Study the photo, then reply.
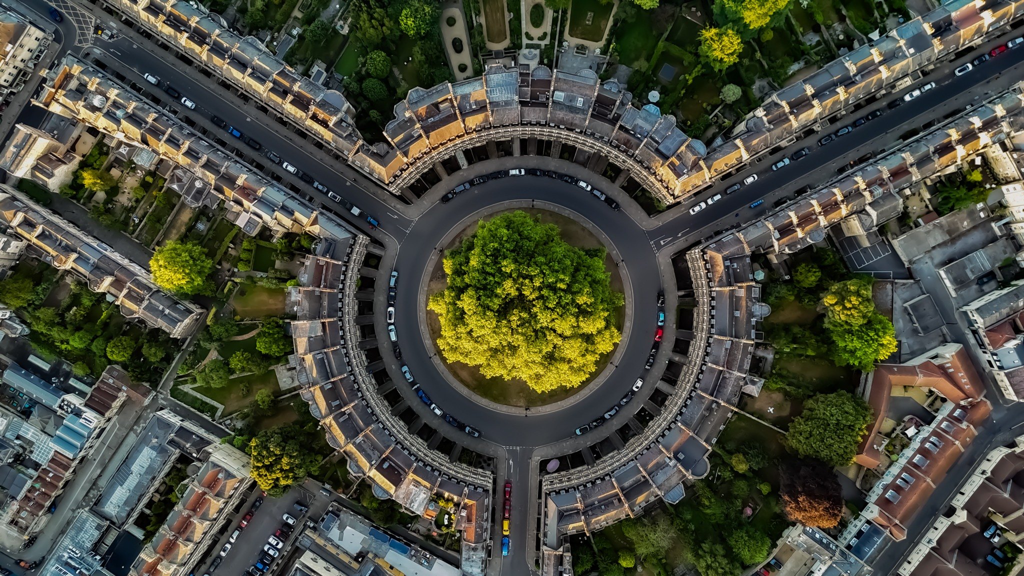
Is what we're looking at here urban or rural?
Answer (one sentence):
This place is urban.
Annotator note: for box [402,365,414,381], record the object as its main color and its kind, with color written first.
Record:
blue vehicle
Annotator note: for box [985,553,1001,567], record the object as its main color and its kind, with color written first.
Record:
blue car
